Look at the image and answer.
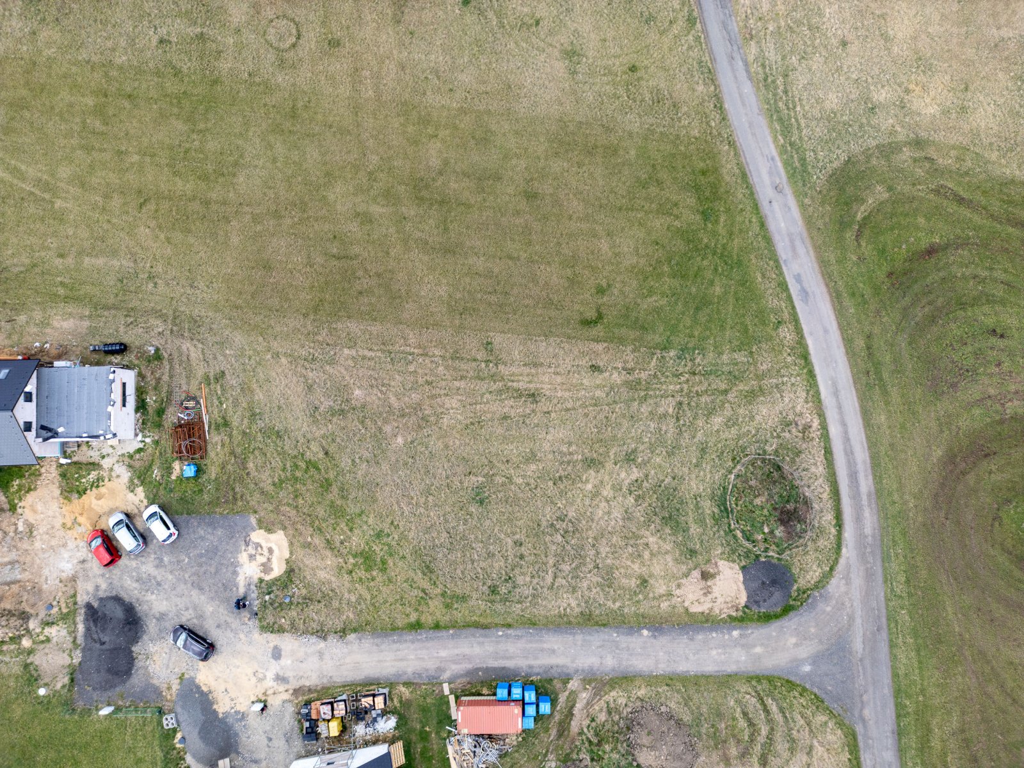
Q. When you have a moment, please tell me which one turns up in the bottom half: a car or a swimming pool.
car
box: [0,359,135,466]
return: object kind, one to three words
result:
house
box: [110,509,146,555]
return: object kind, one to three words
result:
car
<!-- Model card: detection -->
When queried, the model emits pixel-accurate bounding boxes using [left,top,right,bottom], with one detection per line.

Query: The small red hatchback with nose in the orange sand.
[89,527,122,566]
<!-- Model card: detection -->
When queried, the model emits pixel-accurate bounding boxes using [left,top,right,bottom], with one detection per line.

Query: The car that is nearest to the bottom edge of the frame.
[170,625,216,664]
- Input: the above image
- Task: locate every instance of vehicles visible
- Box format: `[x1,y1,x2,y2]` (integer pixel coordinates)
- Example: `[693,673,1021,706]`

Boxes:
[144,503,180,546]
[89,527,122,566]
[170,625,216,664]
[110,509,146,555]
